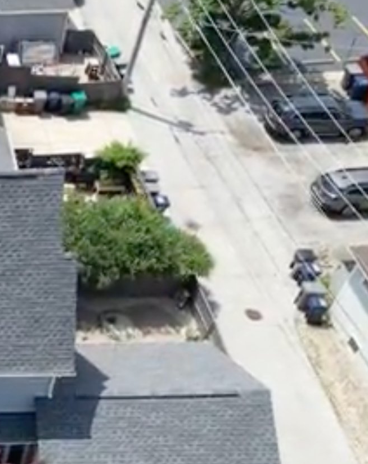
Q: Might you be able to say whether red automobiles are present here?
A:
No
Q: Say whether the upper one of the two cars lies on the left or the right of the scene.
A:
right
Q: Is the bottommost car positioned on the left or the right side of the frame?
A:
right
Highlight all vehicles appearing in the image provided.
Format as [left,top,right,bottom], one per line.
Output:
[263,97,368,139]
[308,171,368,219]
